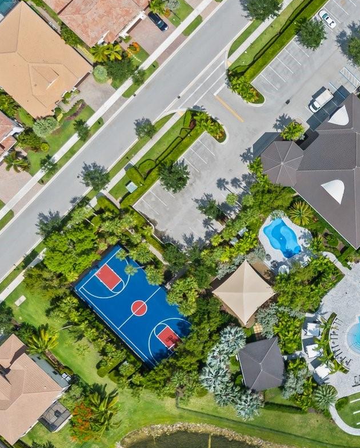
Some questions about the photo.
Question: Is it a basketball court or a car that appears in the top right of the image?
car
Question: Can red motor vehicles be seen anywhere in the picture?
No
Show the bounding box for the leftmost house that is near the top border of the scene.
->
[0,0,94,121]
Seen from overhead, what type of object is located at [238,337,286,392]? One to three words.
gazebo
